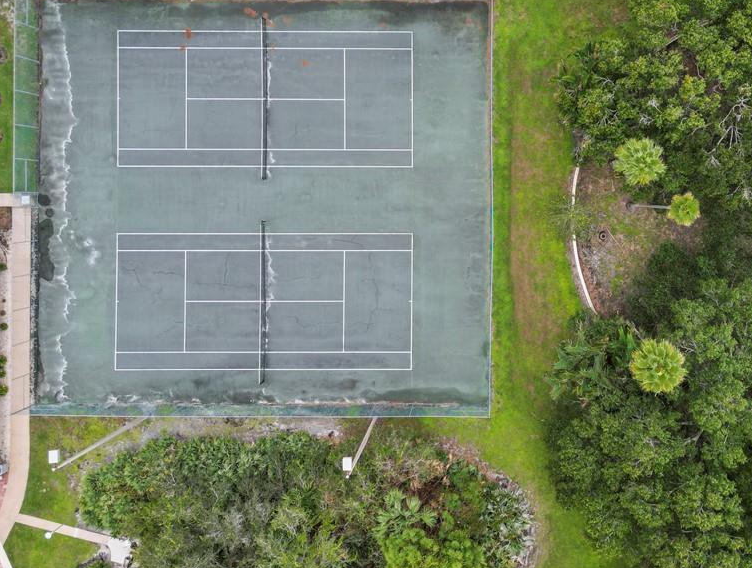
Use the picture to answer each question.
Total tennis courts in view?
2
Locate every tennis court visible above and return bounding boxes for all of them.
[115,234,412,371]
[117,31,412,167]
